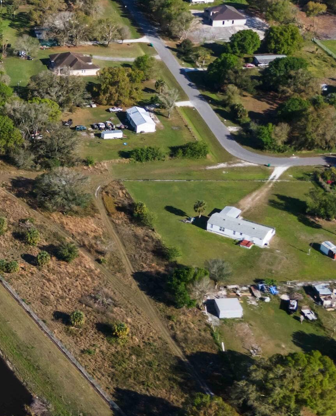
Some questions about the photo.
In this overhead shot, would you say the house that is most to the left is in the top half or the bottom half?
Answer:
top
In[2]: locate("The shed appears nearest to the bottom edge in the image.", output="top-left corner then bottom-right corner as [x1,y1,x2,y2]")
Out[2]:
[212,292,244,318]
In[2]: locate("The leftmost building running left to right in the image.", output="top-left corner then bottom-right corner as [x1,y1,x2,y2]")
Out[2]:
[51,52,100,75]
